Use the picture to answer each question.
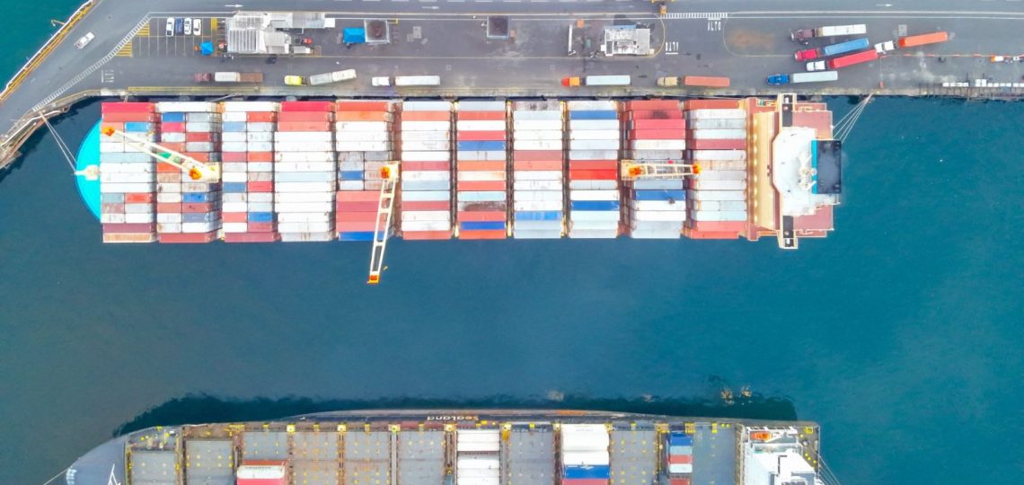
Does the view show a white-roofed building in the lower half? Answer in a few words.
No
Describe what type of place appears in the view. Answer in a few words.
port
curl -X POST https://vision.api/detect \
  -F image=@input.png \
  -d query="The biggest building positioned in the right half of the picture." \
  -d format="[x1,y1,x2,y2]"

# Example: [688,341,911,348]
[604,25,650,57]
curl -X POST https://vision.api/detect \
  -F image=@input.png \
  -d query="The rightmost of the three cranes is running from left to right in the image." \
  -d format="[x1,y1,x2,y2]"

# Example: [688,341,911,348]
[617,160,698,182]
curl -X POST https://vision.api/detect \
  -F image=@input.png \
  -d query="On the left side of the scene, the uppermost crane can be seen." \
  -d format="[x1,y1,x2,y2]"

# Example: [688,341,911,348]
[104,126,232,183]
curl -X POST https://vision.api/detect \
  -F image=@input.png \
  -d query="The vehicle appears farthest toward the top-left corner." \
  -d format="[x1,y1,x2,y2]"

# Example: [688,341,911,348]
[76,33,95,49]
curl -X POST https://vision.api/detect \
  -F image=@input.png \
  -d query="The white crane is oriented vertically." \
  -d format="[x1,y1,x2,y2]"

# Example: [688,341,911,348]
[368,162,402,284]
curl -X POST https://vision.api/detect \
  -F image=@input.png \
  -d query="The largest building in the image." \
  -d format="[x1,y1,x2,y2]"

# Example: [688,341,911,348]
[226,11,327,55]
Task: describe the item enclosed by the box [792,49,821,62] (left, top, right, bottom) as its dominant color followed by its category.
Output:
red vehicle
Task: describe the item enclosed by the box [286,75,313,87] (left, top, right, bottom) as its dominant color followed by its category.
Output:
yellow vehicle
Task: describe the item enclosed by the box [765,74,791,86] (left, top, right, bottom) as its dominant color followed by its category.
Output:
blue vehicle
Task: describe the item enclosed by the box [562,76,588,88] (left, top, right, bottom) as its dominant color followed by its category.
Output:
red vehicle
